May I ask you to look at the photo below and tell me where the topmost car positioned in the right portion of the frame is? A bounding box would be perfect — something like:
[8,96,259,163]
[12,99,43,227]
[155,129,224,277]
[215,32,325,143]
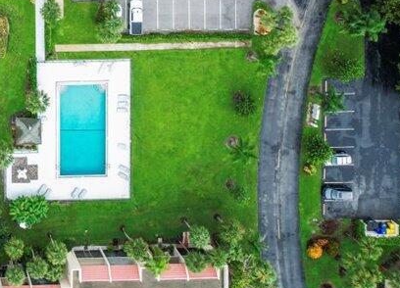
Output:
[323,151,353,166]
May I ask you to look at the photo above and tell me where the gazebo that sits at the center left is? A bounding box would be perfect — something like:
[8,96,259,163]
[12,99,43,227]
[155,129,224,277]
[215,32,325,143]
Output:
[13,114,43,145]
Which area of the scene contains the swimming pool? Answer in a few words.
left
